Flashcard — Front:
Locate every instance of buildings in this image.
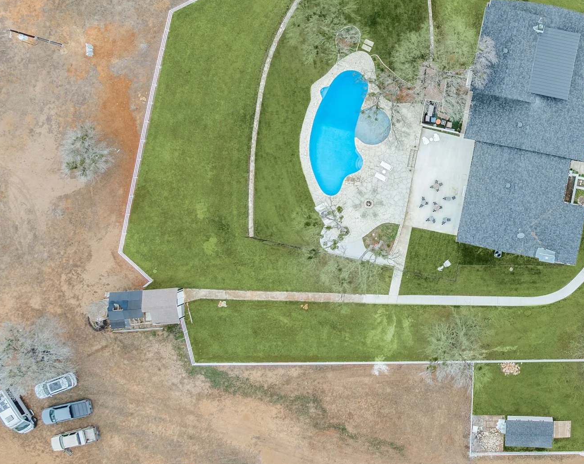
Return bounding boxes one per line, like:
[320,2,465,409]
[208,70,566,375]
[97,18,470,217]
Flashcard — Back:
[102,287,186,331]
[505,416,553,448]
[455,0,584,265]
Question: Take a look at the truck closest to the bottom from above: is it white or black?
white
